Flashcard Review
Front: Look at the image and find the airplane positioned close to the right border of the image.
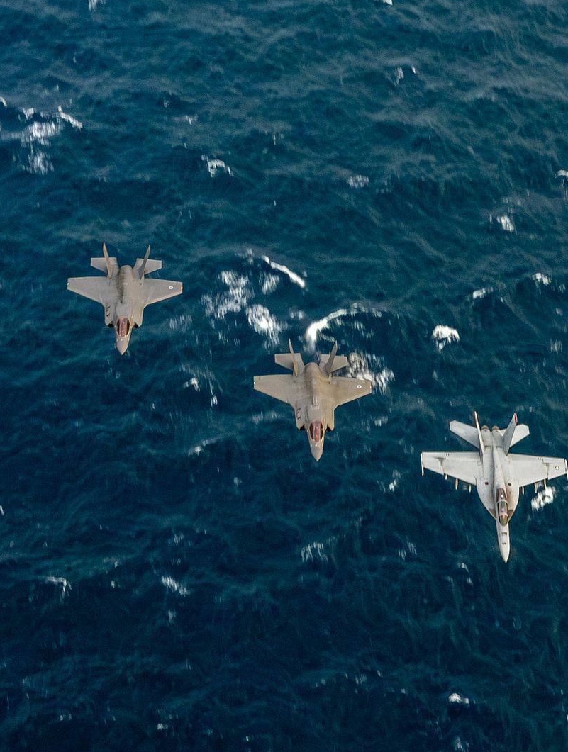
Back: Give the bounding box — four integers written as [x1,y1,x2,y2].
[421,413,568,562]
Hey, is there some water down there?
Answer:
Yes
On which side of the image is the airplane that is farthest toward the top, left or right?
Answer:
left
